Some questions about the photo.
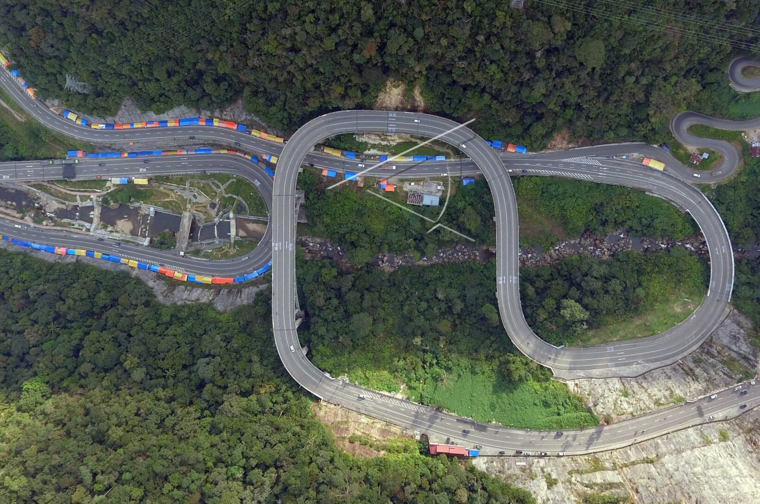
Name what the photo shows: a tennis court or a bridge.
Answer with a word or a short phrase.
bridge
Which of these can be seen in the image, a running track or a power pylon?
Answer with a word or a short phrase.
power pylon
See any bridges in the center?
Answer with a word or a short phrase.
Yes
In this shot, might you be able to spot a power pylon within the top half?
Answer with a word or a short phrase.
Yes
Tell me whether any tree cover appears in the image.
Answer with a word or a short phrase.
Yes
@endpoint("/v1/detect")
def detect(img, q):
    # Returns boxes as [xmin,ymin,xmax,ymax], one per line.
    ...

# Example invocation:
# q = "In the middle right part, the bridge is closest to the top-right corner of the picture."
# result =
[688,196,734,298]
